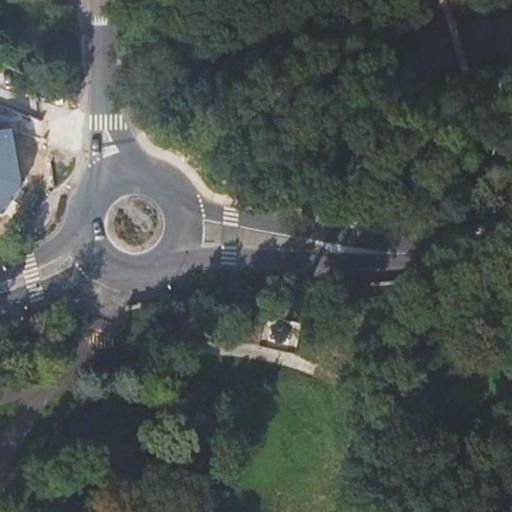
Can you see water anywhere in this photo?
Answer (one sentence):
No, the picture contains no water.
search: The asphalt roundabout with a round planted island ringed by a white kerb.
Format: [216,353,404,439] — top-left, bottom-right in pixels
[60,134,223,298]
